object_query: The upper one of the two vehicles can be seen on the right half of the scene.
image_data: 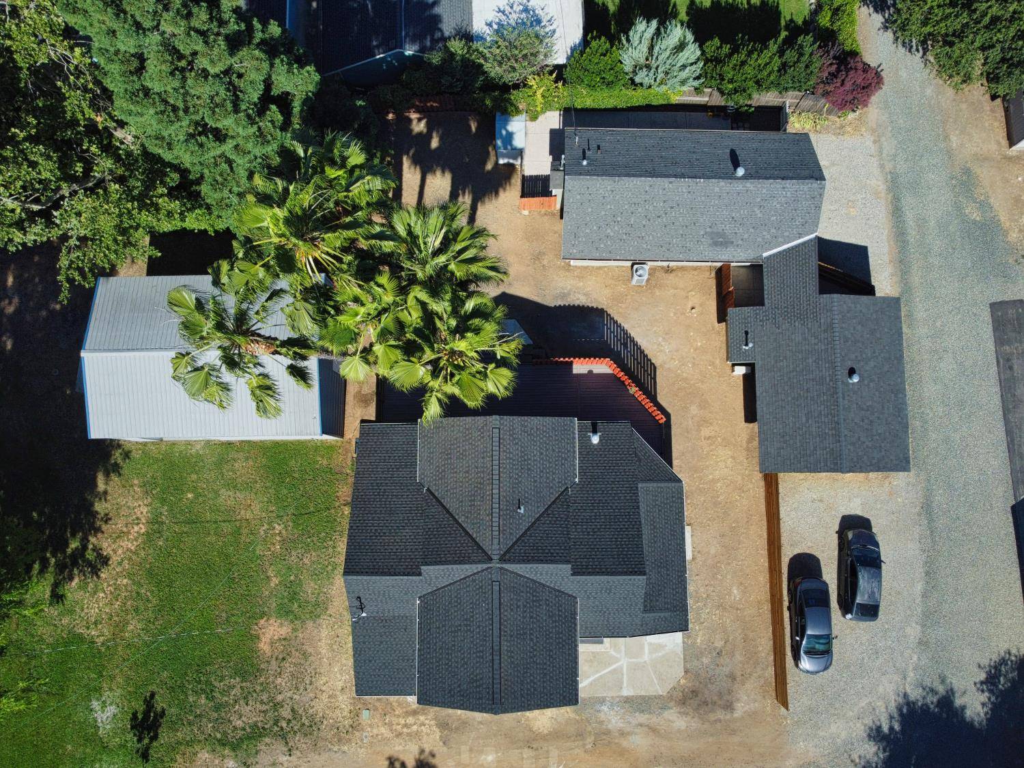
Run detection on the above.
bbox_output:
[837,528,890,624]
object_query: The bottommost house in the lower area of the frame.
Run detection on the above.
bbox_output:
[343,416,693,715]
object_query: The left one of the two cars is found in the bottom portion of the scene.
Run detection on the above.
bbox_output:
[787,575,841,678]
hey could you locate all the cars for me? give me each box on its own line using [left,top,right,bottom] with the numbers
[837,528,890,624]
[787,575,841,678]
